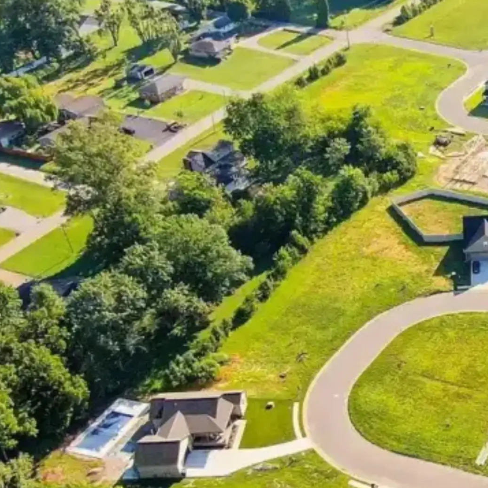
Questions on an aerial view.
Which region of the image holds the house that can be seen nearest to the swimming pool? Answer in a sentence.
You can find the house that can be seen nearest to the swimming pool in the bottom area of the picture.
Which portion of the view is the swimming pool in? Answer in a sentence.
The swimming pool is located in the bottom left region of the scene.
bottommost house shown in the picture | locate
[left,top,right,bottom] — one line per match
[132,384,267,477]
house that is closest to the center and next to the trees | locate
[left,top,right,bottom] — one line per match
[172,131,242,192]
